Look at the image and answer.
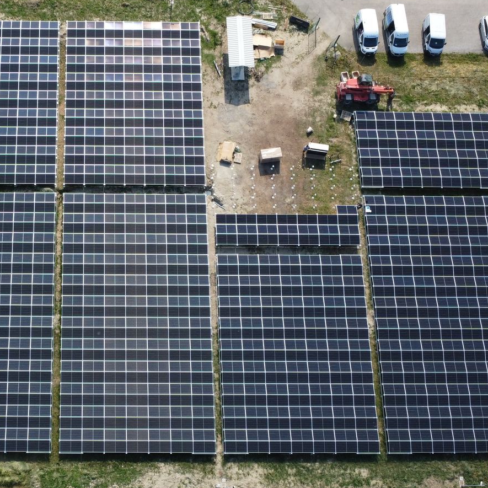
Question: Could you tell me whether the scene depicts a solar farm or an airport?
solar farm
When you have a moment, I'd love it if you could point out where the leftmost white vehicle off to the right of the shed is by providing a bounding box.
[354,6,384,57]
